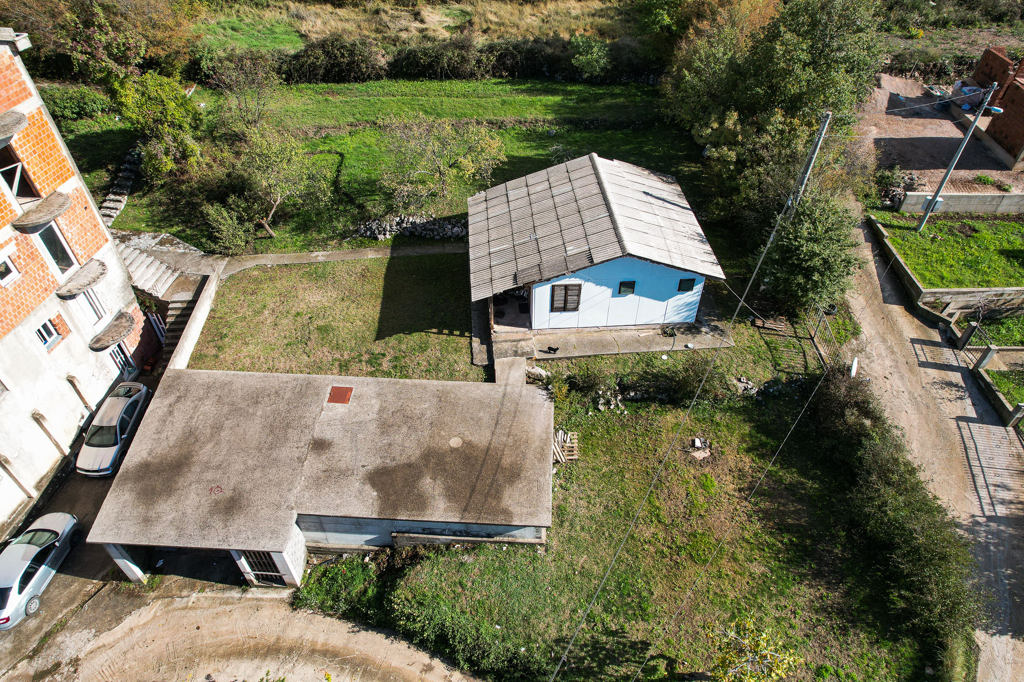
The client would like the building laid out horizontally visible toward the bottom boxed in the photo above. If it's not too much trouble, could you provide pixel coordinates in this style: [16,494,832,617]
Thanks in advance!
[87,369,553,595]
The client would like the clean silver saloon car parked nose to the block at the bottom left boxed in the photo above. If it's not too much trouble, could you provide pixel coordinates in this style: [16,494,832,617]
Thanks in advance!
[0,511,88,645]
